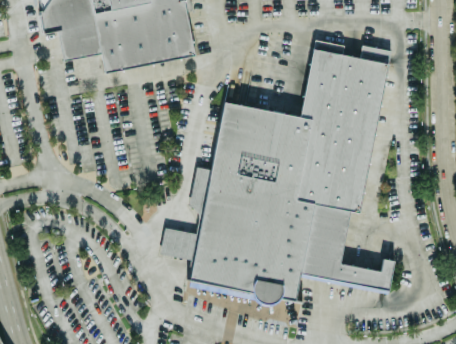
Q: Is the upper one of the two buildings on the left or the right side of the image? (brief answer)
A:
left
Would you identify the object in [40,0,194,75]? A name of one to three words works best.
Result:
building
